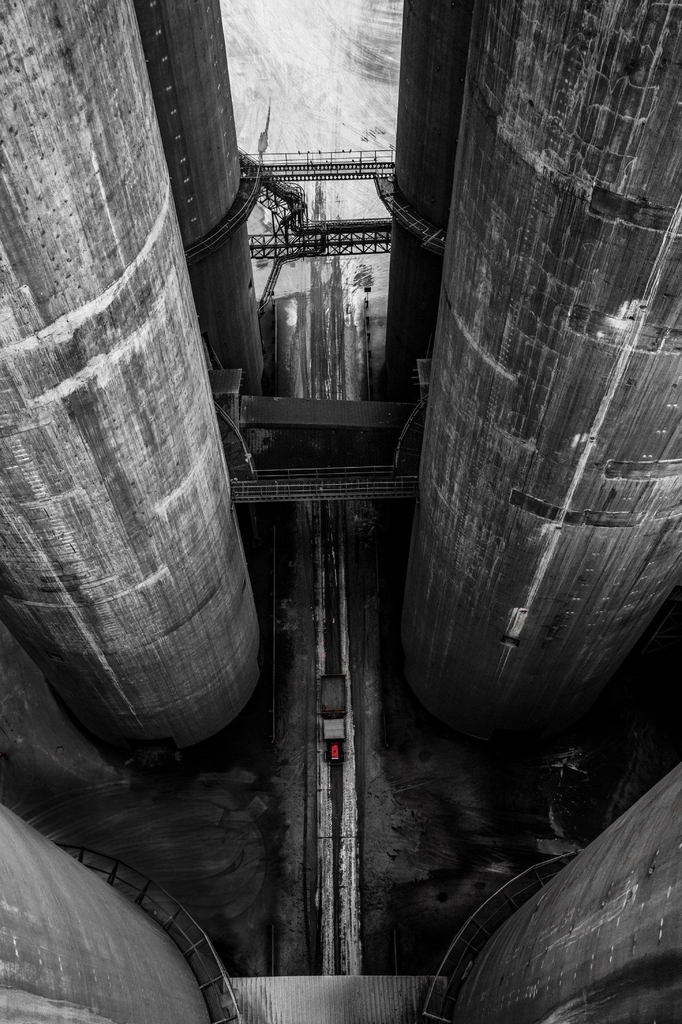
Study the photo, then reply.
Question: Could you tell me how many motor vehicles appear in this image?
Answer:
1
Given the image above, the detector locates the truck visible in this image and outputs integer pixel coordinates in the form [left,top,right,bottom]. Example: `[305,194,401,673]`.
[320,675,350,767]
